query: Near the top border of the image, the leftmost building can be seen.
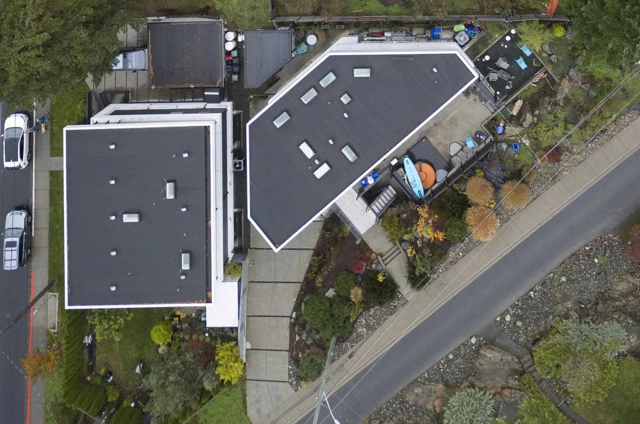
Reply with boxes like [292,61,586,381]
[146,15,230,89]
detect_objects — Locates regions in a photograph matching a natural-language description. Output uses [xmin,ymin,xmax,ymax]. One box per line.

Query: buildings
[146,15,230,89]
[244,26,294,88]
[246,27,483,252]
[64,91,245,327]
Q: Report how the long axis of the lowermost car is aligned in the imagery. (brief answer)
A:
from top to bottom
